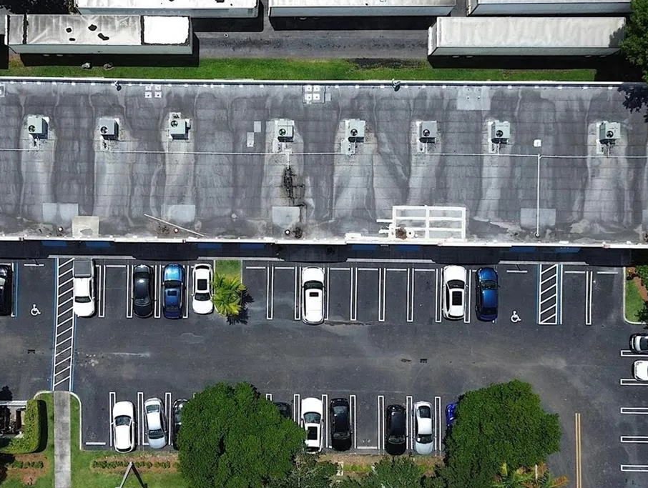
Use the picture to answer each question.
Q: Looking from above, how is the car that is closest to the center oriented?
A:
vertically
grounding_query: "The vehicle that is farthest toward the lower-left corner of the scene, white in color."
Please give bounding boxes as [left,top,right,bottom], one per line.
[111,401,136,454]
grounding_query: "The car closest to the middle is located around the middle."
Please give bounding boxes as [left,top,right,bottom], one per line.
[301,267,326,325]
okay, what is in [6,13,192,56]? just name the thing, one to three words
trailer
